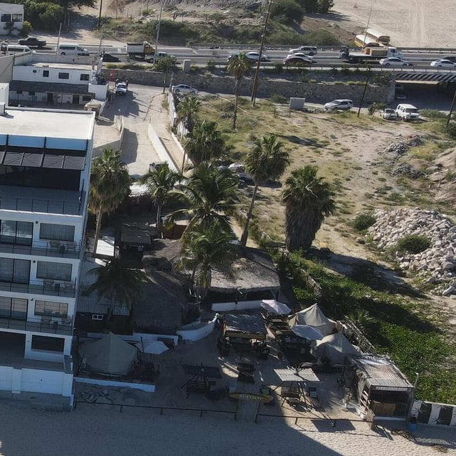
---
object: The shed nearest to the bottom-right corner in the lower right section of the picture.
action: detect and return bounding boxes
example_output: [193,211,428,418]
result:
[347,359,414,415]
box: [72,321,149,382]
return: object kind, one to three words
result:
tent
